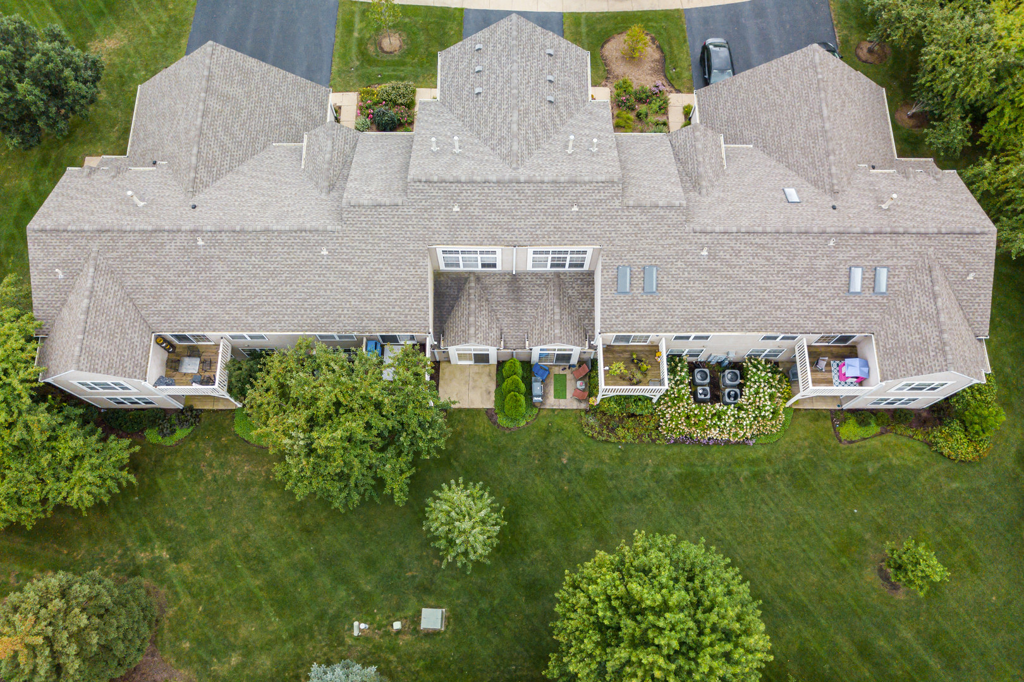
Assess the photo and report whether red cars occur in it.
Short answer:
No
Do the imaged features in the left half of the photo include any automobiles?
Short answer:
No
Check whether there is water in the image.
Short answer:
No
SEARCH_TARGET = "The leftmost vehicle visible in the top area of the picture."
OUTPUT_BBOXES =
[699,38,735,86]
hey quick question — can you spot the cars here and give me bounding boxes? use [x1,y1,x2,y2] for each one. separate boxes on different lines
[802,40,836,57]
[699,38,735,86]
